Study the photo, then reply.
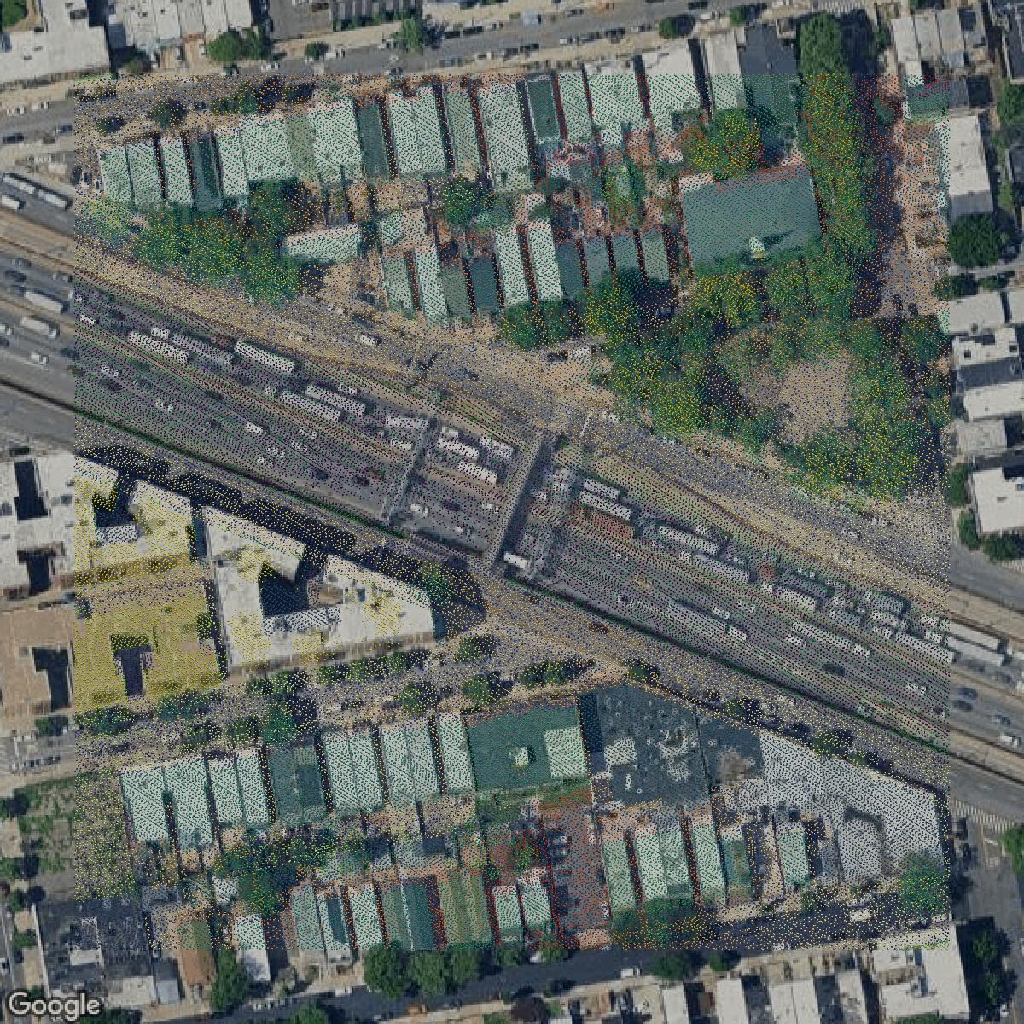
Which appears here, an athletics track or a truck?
truck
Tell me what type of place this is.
residential area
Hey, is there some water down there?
No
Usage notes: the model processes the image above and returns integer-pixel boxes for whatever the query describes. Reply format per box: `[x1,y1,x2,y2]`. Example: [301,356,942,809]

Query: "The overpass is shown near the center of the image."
[483,424,553,567]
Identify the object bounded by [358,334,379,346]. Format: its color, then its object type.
white vehicle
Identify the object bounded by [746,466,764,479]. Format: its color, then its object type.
gray vehicle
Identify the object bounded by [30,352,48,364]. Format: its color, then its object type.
white vehicle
